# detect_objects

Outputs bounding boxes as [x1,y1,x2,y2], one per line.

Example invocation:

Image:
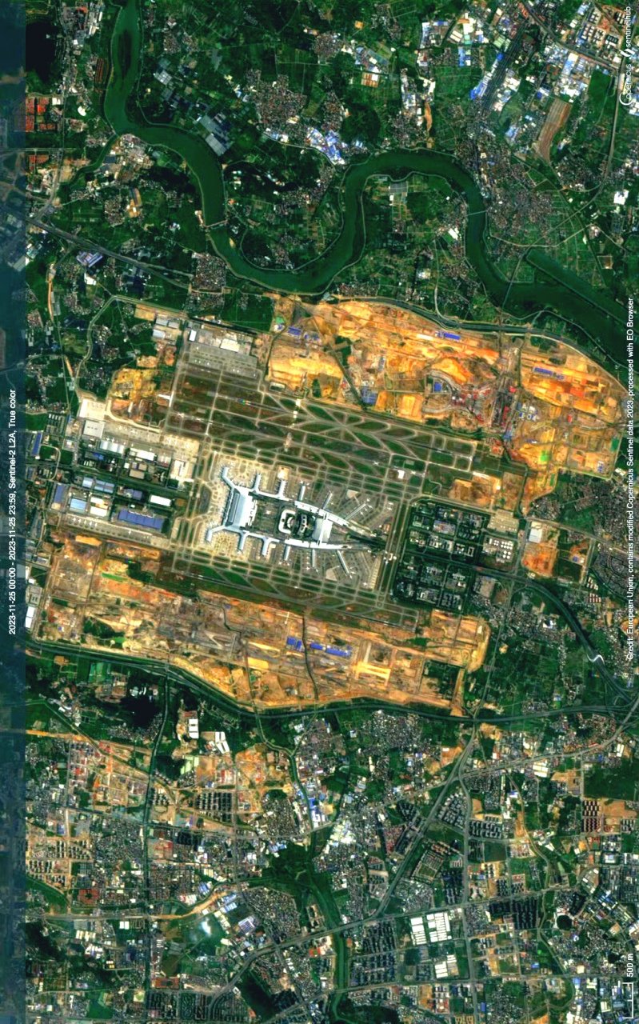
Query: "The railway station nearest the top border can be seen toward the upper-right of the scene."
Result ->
[481,21,530,112]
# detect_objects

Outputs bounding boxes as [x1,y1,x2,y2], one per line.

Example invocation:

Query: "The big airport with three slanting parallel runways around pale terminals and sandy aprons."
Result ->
[66,342,477,632]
